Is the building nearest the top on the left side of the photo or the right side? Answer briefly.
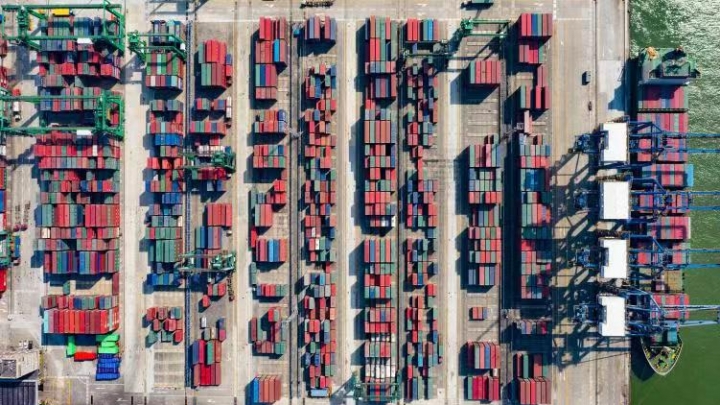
left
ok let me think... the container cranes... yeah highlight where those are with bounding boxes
[0,95,133,141]
[569,226,720,283]
[351,368,400,400]
[400,39,451,69]
[569,118,720,174]
[125,33,187,62]
[569,174,720,226]
[569,278,720,338]
[183,248,238,271]
[0,3,133,57]
[456,19,509,51]
[183,153,238,173]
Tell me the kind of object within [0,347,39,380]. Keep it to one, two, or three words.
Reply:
building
